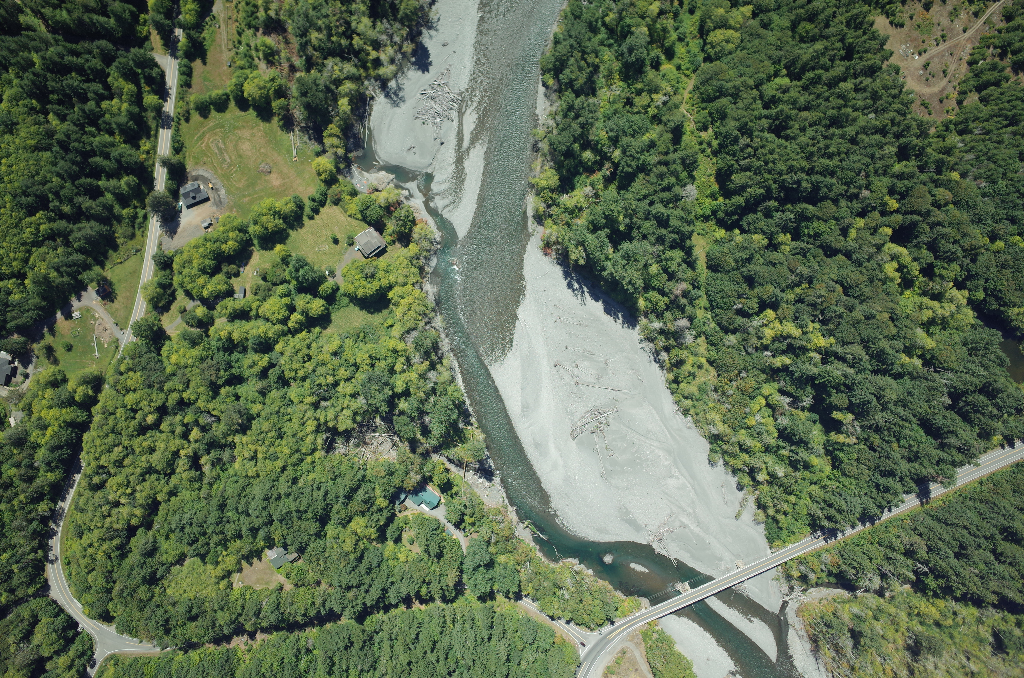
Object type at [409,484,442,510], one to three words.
house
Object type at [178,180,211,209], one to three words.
house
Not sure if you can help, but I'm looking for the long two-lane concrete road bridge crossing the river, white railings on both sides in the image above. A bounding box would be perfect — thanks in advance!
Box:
[647,550,781,624]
